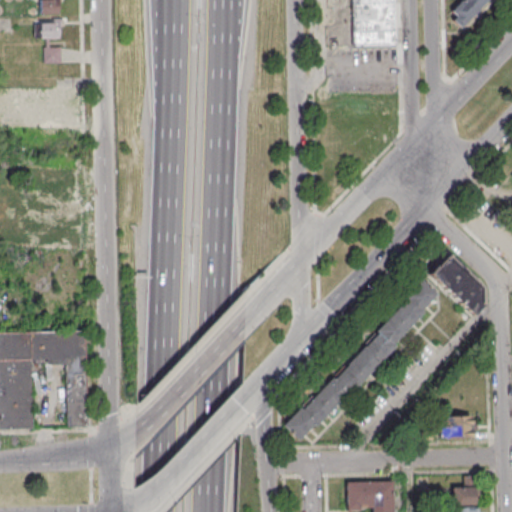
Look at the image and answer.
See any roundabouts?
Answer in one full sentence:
No, the scene contains no roundabout.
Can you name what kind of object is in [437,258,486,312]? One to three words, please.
building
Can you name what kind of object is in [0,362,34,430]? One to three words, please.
building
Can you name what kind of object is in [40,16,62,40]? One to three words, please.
house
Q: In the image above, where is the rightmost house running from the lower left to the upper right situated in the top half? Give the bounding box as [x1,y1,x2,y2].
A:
[448,0,496,32]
